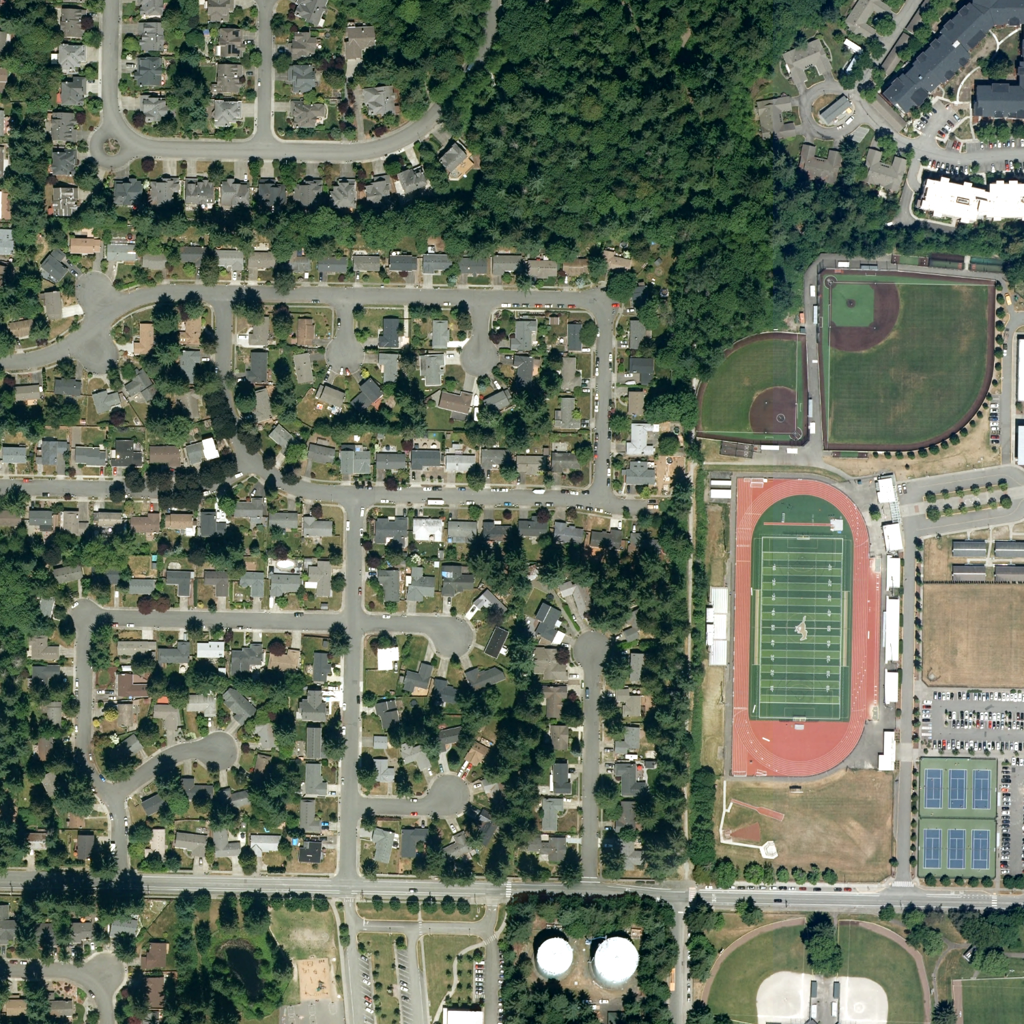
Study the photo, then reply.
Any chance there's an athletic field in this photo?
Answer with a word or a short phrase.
Yes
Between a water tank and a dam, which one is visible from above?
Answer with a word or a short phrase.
water tank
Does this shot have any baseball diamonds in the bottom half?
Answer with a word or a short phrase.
Yes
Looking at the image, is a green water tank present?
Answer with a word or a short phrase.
No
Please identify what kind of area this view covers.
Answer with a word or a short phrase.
residential area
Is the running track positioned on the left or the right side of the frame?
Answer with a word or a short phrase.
right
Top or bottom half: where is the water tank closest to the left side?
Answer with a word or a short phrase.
bottom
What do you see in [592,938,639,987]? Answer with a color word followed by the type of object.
white water tank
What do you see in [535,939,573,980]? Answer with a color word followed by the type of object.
white water tank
